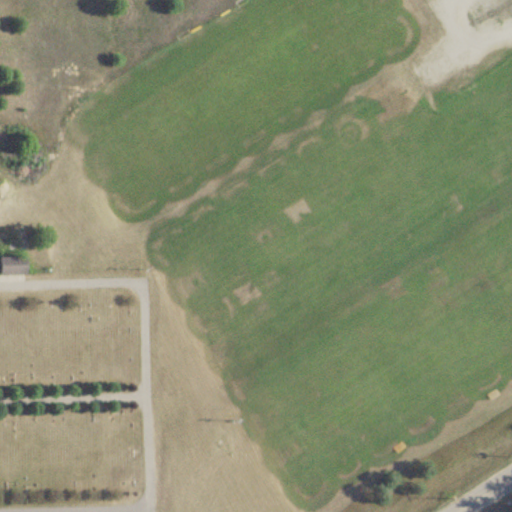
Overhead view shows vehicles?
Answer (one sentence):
No, I can see no vehicle in this picture.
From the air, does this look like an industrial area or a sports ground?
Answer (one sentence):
This looks like a sports ground.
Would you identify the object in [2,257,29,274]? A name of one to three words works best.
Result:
house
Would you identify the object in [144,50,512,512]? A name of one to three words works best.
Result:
sports field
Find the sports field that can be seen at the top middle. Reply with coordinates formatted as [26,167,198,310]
[76,0,422,226]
